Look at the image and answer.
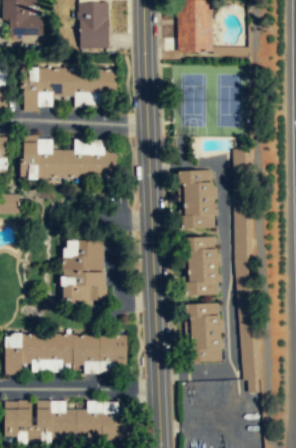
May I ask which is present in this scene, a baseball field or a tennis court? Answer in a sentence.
Of the two, only a tennis court appears.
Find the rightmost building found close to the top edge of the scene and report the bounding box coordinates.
[178,0,214,52]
